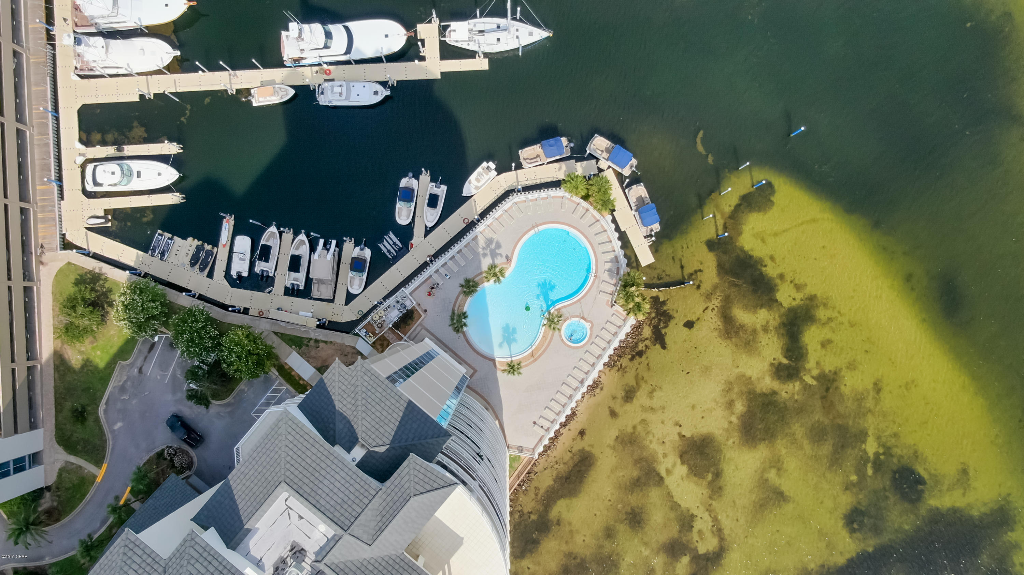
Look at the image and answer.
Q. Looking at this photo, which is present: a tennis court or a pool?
pool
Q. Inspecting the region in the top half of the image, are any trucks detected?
No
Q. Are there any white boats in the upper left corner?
Yes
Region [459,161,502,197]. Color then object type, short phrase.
white boat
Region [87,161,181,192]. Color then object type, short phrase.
white boat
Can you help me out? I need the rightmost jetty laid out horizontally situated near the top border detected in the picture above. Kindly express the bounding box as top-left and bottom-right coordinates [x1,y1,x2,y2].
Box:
[74,24,488,109]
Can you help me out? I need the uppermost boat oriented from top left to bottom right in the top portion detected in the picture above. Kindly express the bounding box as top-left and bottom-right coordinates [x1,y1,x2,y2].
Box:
[587,136,641,177]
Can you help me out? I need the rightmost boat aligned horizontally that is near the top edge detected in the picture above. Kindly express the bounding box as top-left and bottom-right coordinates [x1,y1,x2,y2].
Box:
[435,0,553,51]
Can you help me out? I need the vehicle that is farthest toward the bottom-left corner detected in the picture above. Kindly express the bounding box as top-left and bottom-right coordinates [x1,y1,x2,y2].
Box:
[164,412,206,450]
